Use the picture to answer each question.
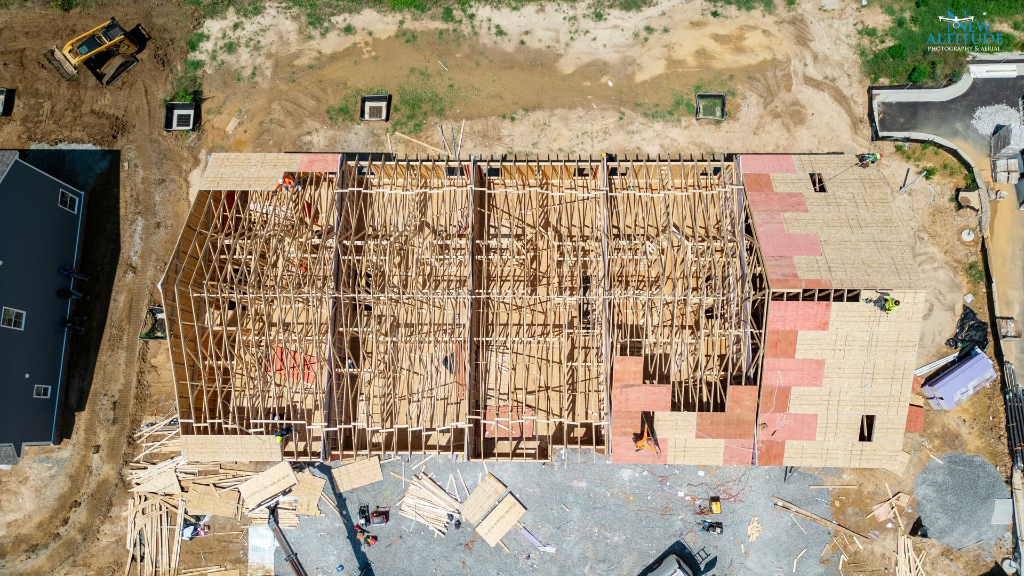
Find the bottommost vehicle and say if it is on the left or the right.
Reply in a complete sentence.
The bottommost vehicle sits on the right side.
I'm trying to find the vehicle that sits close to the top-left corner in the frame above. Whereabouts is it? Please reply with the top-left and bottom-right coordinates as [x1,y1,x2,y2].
[52,23,137,85]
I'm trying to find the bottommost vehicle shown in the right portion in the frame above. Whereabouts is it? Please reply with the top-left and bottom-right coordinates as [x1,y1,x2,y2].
[641,552,691,576]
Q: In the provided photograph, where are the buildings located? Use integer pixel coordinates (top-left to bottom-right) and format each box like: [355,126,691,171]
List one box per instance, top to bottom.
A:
[0,145,88,464]
[158,153,926,468]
